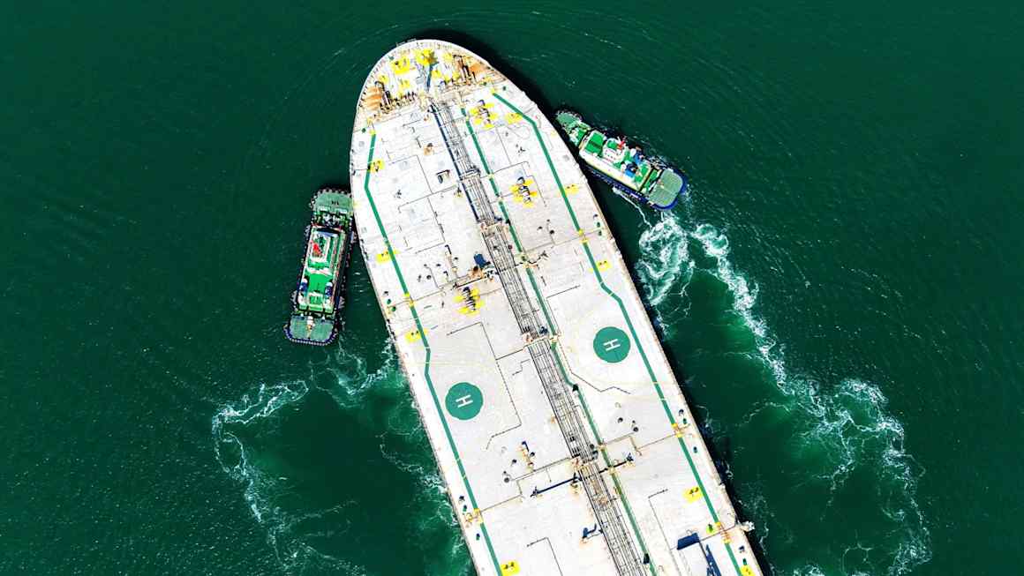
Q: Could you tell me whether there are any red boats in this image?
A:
No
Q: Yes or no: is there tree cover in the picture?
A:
No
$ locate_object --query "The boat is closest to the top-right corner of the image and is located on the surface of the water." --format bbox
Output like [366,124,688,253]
[551,110,691,219]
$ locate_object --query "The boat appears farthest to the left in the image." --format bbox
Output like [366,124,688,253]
[289,187,355,346]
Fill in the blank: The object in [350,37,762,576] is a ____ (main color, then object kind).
white ship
